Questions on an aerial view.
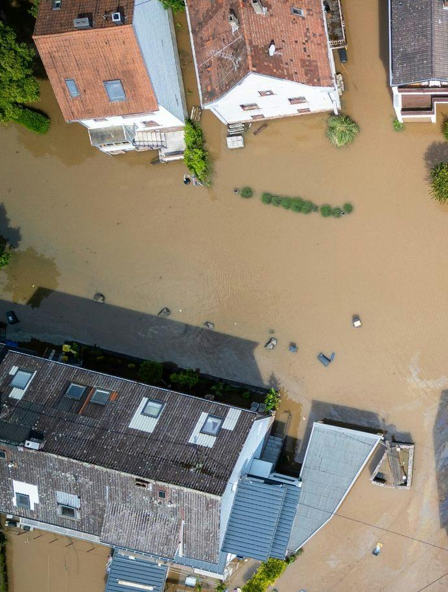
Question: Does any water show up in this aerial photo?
Yes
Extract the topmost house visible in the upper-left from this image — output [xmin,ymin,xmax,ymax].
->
[32,0,188,138]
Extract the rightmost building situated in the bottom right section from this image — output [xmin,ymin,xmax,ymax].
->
[289,423,383,550]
